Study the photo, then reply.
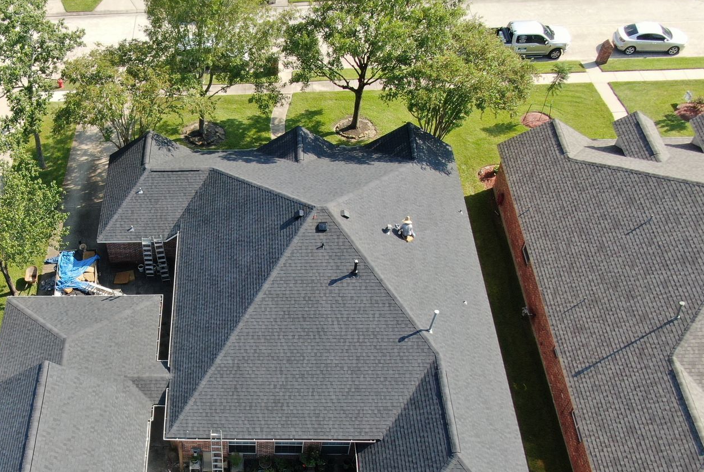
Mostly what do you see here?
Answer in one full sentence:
Most of the picture is covered by buildings.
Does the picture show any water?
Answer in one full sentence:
No, the scene doesn't show any water.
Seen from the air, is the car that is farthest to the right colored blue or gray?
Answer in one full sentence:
In this view, the car that is farthest to the right is gray.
